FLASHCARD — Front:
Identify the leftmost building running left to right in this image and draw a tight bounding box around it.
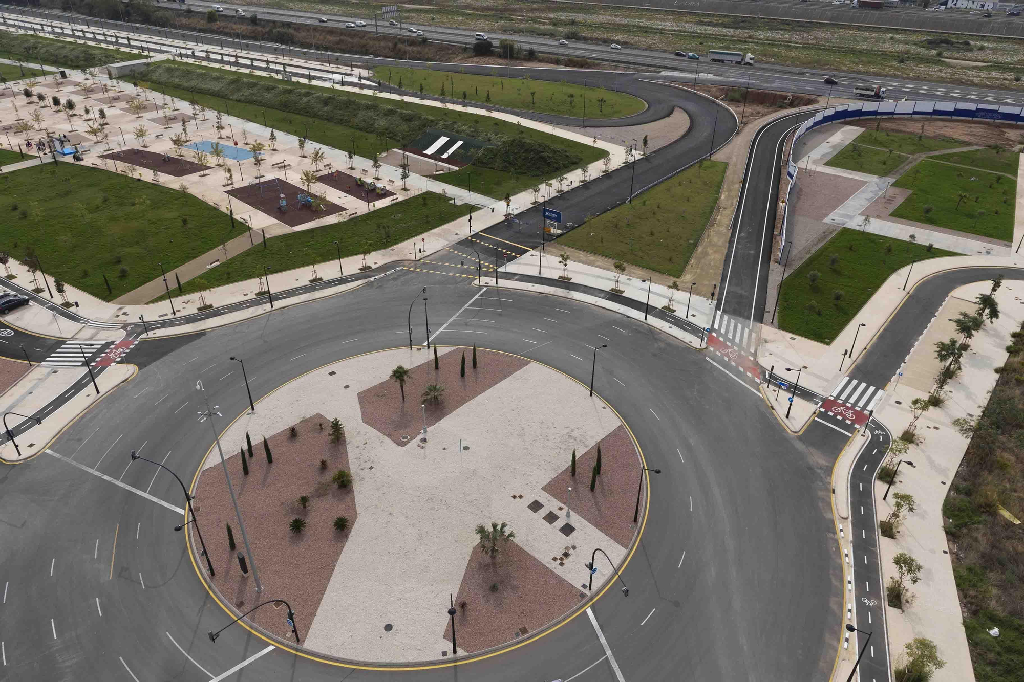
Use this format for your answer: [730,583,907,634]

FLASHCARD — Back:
[105,60,147,76]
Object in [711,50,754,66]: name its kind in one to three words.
vehicle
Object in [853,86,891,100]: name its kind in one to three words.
vehicle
